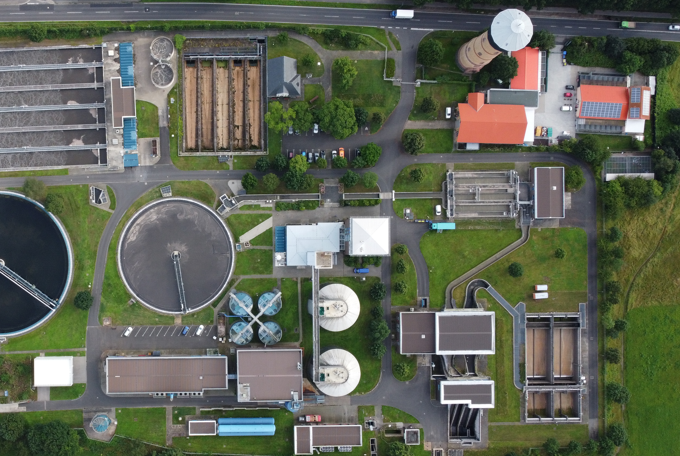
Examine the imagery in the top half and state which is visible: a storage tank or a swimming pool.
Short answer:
storage tank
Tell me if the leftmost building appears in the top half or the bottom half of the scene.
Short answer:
bottom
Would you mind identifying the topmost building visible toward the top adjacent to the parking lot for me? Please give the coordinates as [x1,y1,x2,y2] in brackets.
[268,56,300,98]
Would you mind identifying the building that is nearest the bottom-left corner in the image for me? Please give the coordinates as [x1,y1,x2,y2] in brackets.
[35,357,75,385]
